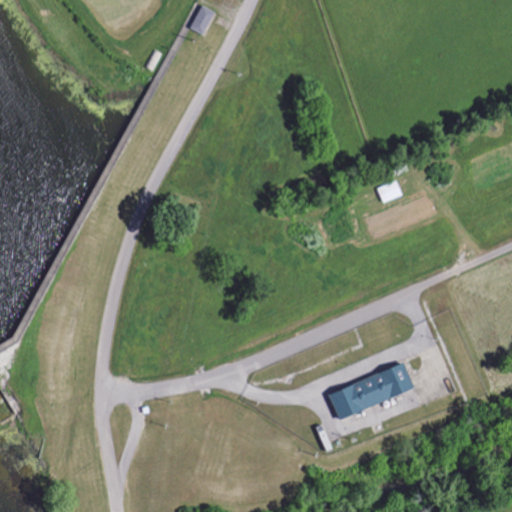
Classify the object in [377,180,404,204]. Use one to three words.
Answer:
barn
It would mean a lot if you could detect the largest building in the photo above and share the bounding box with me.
[329,364,414,418]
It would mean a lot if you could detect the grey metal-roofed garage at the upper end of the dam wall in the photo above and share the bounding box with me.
[189,5,216,35]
